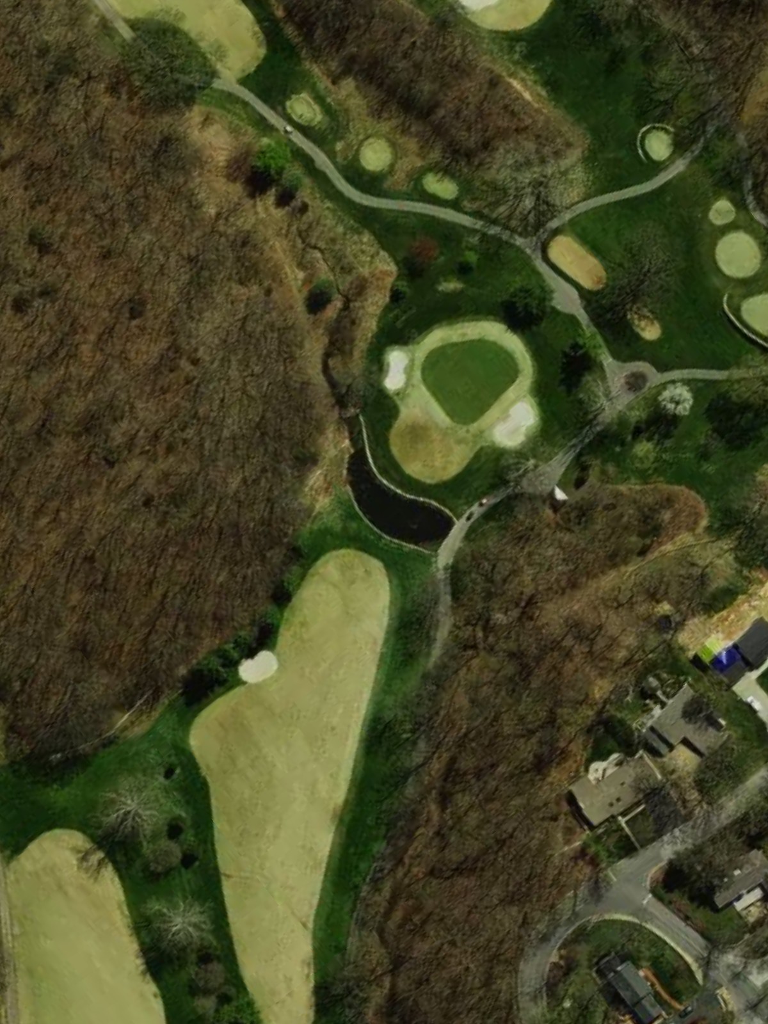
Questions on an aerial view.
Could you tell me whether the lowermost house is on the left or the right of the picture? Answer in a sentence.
The lowermost house appears in the right half of the scene.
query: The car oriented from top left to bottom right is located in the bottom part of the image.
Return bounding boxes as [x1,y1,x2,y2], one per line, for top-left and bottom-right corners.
[746,695,763,712]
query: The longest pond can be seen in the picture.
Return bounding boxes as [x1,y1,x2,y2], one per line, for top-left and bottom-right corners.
[343,414,454,551]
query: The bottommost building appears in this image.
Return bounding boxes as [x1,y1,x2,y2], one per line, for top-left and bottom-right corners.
[591,954,671,1024]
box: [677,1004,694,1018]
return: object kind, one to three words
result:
car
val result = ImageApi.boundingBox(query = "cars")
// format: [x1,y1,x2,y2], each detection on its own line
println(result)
[677,1004,694,1018]
[746,695,763,712]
